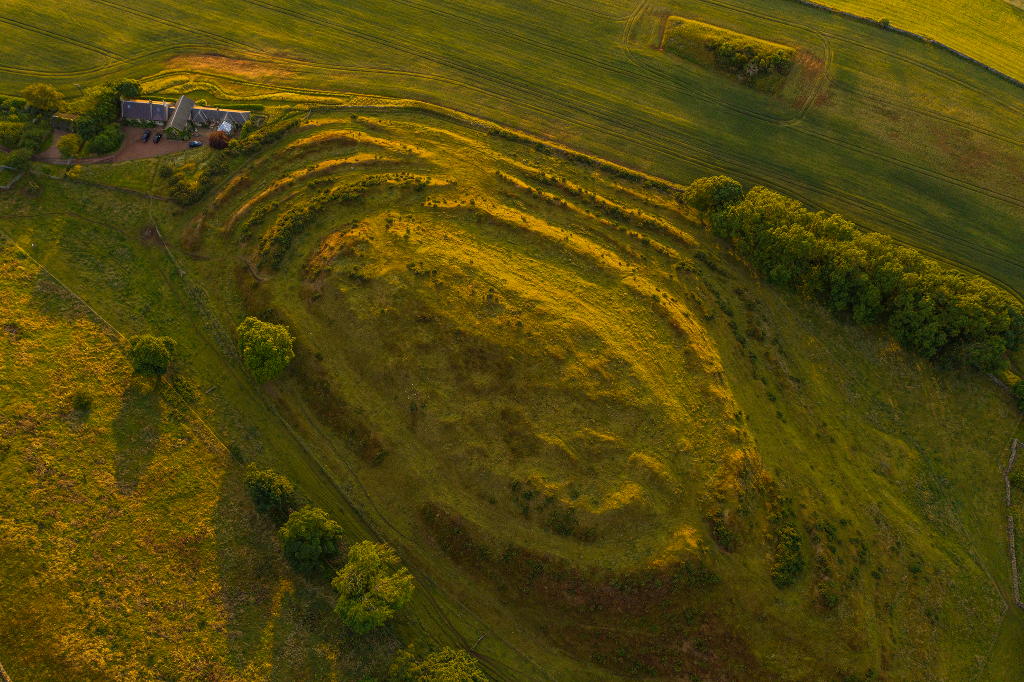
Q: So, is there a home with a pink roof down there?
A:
No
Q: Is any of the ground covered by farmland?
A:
Yes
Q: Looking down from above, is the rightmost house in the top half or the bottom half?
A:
top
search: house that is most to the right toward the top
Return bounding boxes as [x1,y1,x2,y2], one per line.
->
[121,93,254,138]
